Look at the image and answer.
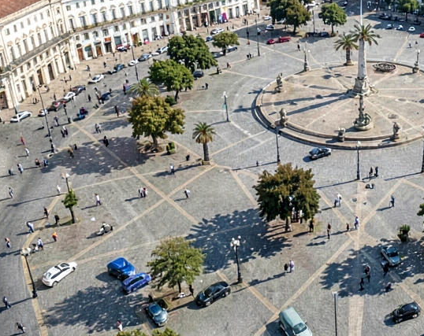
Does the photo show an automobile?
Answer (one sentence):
Yes, you can see an automobile in this photo.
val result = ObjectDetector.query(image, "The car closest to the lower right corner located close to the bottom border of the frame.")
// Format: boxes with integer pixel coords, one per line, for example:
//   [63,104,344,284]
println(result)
[388,299,418,323]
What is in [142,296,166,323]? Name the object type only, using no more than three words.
car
